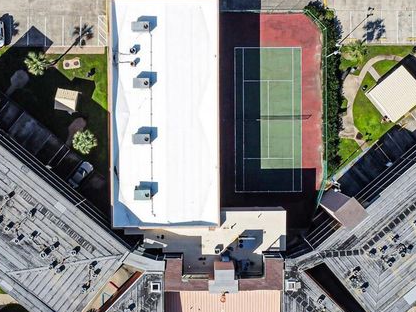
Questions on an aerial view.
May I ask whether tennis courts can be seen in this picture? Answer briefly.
Yes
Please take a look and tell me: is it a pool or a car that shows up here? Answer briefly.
car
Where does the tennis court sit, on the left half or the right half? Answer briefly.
right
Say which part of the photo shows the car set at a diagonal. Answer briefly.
left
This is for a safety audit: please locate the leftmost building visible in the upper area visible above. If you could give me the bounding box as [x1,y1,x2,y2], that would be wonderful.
[55,87,81,111]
